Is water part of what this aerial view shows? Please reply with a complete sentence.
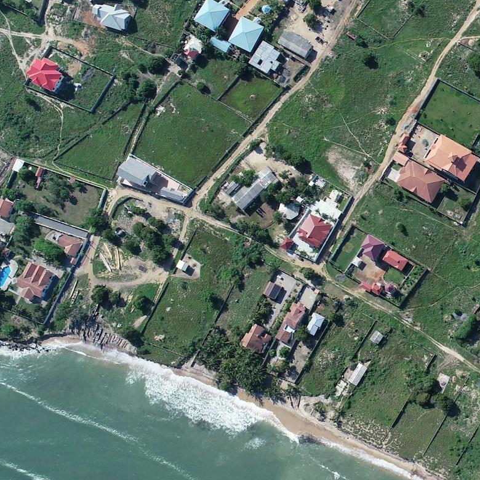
Yes, water shows up in the scene.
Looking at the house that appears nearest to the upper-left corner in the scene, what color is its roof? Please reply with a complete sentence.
The roof over the house that appears nearest to the upper-left corner appears red.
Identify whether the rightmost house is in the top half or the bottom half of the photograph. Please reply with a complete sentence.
The top half of the photo is where the rightmost house is.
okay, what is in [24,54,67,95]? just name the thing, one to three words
house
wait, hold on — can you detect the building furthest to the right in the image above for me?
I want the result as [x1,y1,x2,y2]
[429,133,480,182]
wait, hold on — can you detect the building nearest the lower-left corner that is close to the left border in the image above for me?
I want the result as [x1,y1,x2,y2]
[16,261,61,302]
